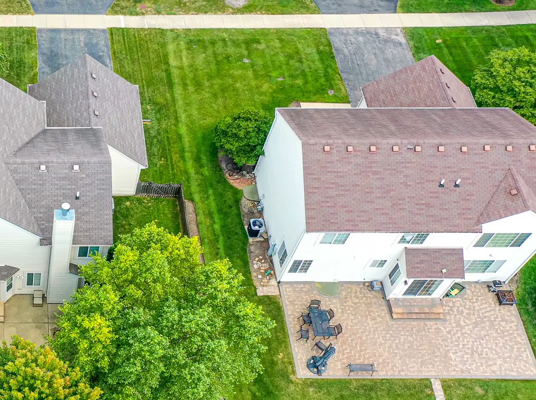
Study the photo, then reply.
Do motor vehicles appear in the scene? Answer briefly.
No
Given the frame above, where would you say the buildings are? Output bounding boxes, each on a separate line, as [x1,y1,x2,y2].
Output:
[255,56,536,318]
[0,54,152,322]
